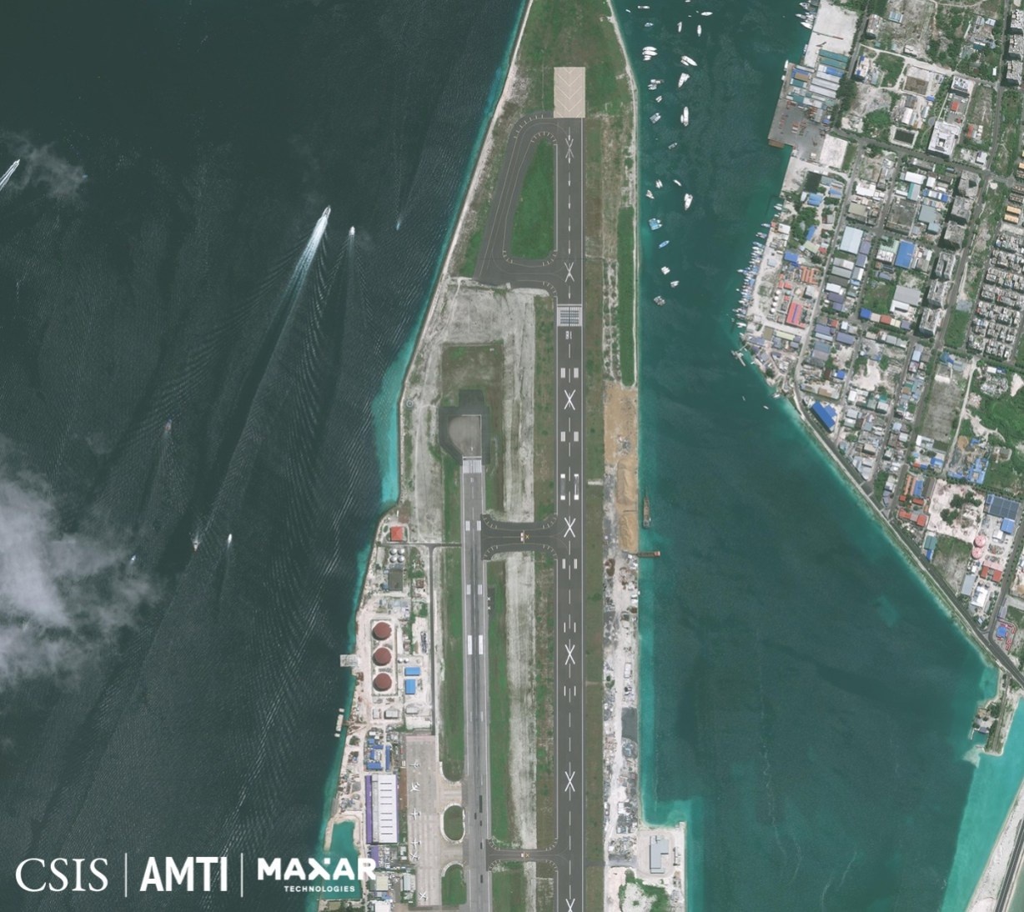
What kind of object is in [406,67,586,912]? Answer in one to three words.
airport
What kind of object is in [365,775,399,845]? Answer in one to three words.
hangar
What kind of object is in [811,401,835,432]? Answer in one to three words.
building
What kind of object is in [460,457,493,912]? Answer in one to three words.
runway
